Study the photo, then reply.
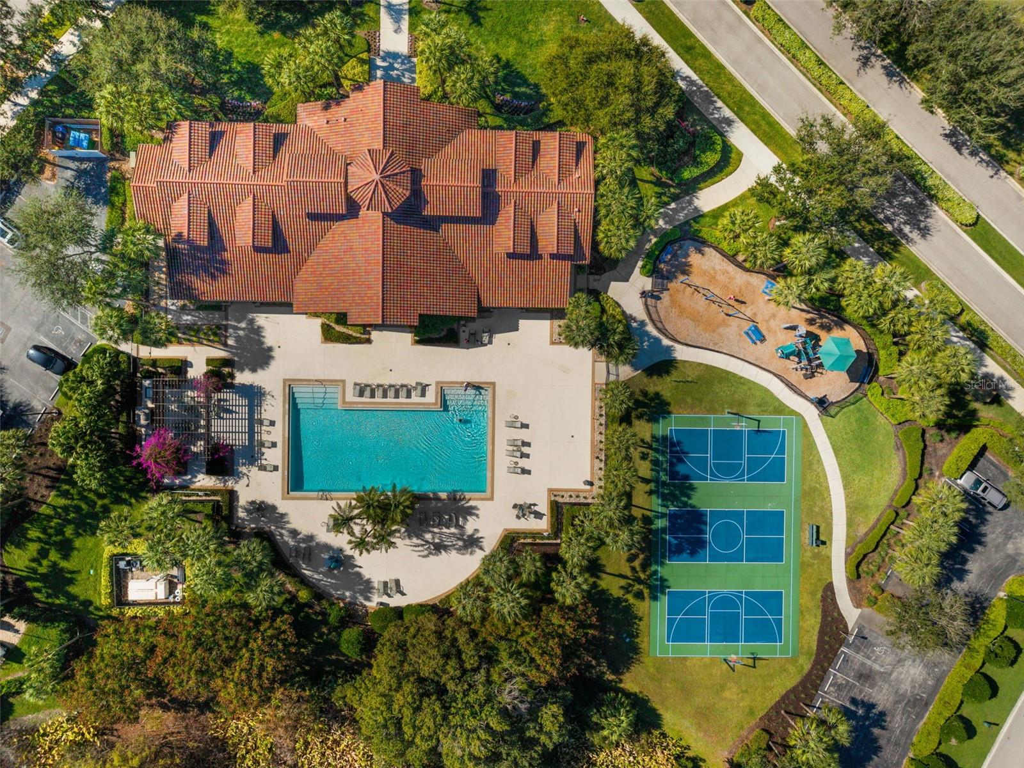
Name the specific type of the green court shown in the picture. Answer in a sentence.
Specifically, the green court is a basketball court.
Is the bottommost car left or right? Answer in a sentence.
The bottommost car is on the right side of the image.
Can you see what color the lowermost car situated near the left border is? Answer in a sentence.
The color of the lowermost car situated near the left border is black.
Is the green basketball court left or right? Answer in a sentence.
You can find the green basketball court on the right side of the picture.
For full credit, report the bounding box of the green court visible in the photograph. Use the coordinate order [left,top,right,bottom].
[650,415,803,657]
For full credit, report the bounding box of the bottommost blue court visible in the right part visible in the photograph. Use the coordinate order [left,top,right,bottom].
[666,590,784,644]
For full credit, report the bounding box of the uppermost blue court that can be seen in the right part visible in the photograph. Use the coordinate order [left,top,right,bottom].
[668,428,786,482]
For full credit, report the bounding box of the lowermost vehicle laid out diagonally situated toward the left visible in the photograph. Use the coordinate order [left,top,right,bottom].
[28,344,73,378]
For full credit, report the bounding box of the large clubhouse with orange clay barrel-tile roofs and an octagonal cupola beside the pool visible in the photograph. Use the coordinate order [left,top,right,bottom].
[130,81,593,326]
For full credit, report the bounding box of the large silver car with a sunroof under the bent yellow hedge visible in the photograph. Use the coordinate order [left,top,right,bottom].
[954,471,1009,512]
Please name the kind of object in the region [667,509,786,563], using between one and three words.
sports court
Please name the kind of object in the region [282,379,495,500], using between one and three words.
swimming pool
